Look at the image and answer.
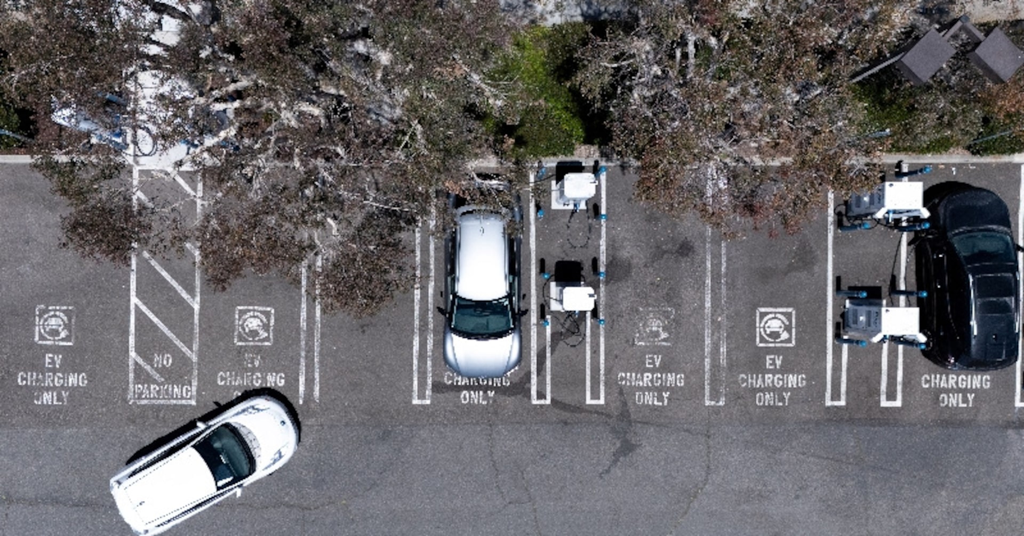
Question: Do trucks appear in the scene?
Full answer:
No, no truck is visible in the scene.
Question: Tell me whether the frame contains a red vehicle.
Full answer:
No, the picture doesn't show any red vehicle.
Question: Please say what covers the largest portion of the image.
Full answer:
Most of the picture is covered by paved ground.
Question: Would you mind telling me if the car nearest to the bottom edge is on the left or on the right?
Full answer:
It is on the left.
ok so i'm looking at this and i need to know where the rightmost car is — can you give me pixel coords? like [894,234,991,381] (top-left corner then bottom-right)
[915,185,1024,372]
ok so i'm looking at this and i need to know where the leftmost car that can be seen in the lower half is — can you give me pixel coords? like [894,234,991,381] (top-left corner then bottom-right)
[112,393,297,535]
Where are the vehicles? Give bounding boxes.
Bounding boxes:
[915,185,1024,372]
[431,182,532,380]
[112,393,297,535]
